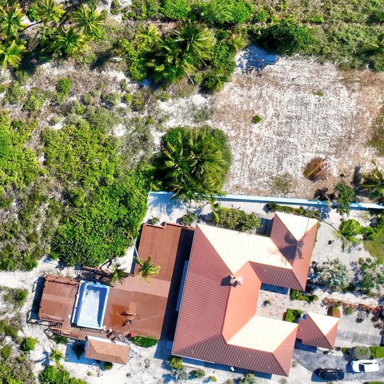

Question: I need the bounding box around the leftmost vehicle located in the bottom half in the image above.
[320,369,347,384]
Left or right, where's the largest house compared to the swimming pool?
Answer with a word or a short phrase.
to the right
